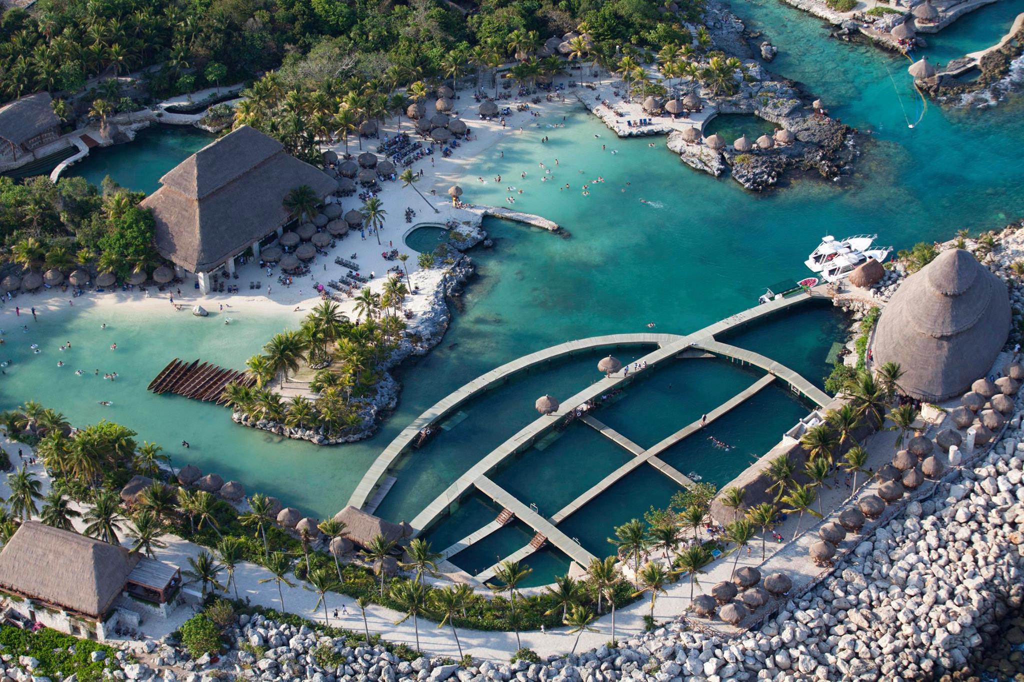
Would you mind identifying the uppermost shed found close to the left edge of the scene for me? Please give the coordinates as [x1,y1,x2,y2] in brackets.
[0,98,62,157]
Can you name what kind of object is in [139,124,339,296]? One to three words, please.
building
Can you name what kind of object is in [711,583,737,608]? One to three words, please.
umbrella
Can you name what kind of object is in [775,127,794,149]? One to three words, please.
umbrella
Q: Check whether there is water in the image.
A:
Yes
